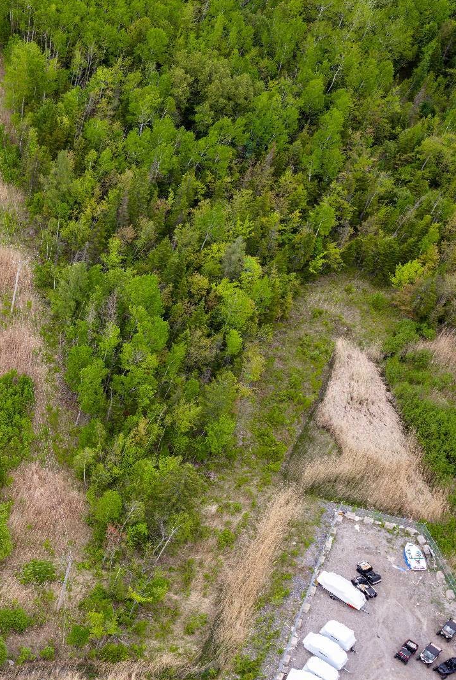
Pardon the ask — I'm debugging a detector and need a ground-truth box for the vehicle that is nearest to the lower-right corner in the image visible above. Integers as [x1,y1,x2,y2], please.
[437,658,456,679]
